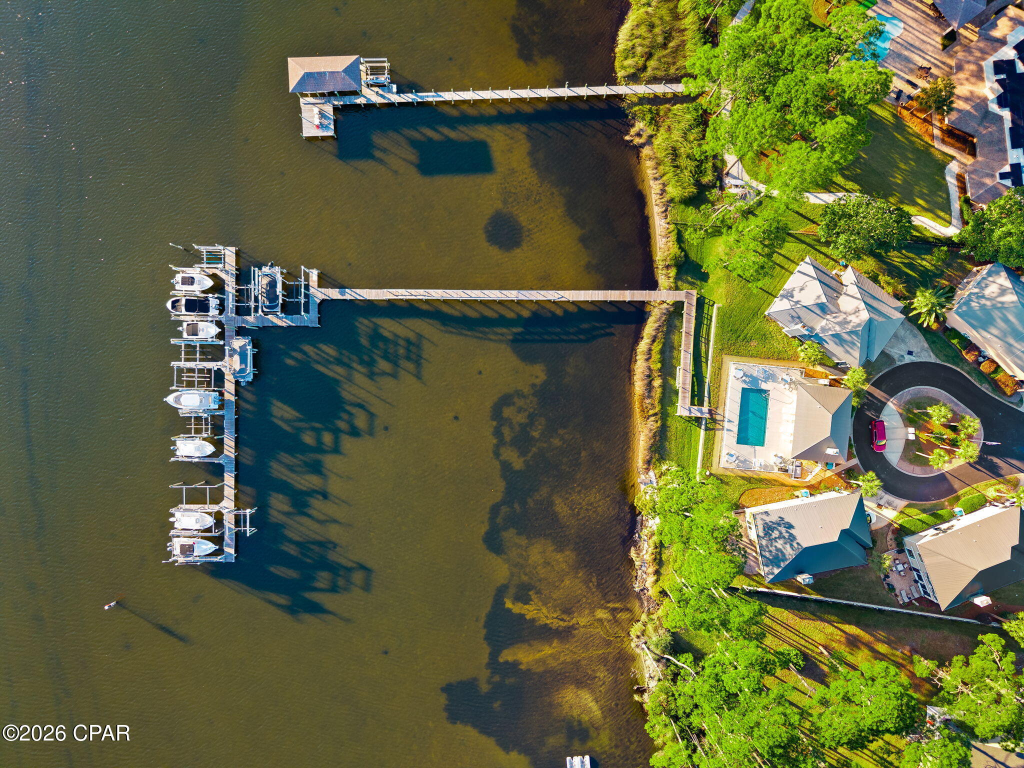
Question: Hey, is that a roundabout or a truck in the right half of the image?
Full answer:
The feature located in the right half of the image is a roundabout.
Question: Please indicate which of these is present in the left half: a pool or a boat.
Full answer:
You can see a boat in the left half.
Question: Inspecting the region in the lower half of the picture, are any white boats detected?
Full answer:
Yes, a white boat is visible in the lower half of the picture.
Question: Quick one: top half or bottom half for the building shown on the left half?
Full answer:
The building shown on the left half sits in the top half of the picture.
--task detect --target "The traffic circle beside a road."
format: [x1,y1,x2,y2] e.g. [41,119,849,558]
[880,386,984,476]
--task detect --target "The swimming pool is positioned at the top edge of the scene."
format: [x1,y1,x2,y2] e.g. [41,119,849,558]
[855,12,906,63]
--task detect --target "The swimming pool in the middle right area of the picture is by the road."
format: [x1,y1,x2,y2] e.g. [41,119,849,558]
[720,363,852,472]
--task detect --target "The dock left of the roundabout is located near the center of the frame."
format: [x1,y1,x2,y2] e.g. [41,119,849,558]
[176,247,716,564]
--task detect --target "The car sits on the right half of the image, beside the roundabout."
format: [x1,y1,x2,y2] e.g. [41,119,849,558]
[867,419,886,452]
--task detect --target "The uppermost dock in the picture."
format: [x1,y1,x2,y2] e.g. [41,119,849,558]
[298,63,684,142]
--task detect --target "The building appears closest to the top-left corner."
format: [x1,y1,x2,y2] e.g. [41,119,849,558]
[288,55,363,98]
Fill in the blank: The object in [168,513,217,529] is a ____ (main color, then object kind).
white boat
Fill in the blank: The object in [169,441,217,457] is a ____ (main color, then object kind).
white boat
